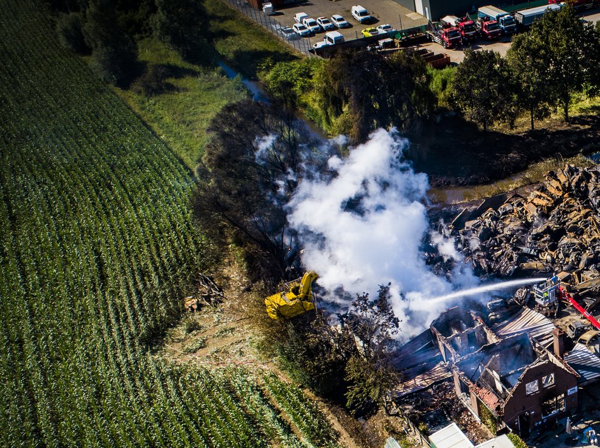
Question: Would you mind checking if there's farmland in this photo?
Yes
